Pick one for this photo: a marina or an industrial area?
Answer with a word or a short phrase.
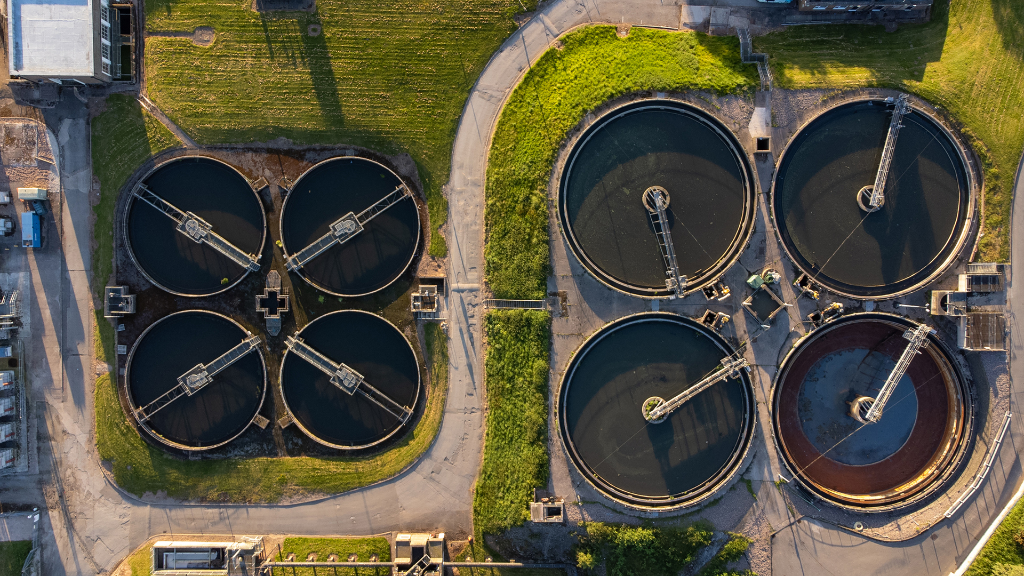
industrial area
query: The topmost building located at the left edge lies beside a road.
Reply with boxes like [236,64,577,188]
[7,0,112,87]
